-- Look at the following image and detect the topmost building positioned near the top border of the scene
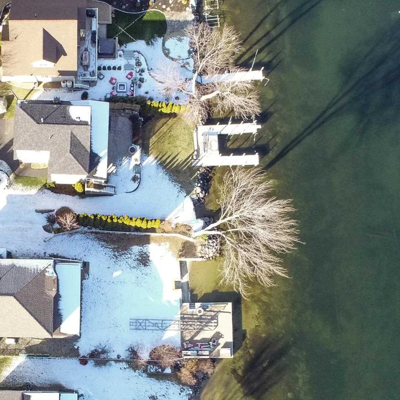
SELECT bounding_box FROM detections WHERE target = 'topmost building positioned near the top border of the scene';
[1,0,87,83]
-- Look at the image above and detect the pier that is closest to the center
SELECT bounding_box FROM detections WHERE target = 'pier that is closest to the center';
[195,117,260,167]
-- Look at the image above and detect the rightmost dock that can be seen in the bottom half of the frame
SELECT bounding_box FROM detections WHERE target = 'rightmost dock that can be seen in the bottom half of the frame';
[181,302,235,358]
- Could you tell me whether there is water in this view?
Yes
